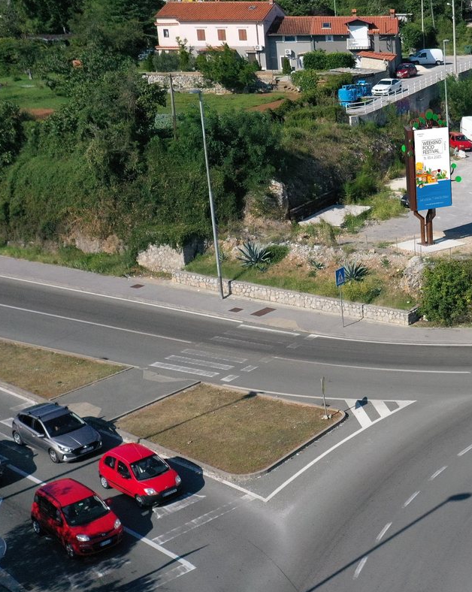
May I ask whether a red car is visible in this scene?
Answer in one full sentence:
Yes, you can see a red car in this photo.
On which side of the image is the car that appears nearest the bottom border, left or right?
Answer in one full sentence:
You can find the car that appears nearest the bottom border on the left side of the picture.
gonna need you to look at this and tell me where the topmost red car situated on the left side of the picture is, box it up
[103,437,178,500]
